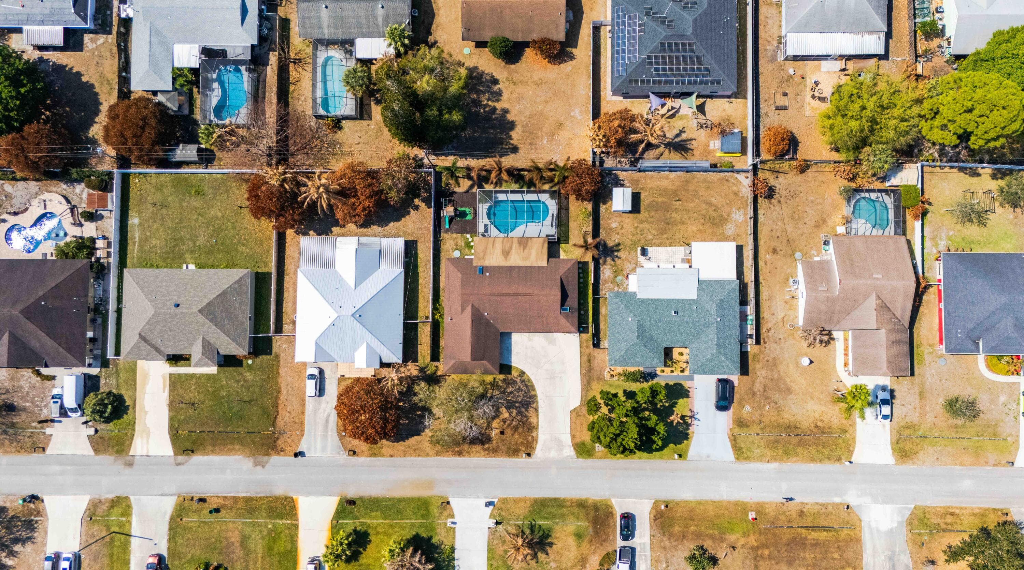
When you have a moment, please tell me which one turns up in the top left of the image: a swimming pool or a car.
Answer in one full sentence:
What appears in the top left of the image is a swimming pool.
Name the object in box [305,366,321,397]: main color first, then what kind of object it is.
white car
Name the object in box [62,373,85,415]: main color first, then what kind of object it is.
white vehicle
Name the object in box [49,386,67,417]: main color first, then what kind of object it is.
white car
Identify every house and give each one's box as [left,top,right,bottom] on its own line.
[607,242,741,376]
[0,259,97,369]
[443,237,578,375]
[295,236,406,369]
[795,235,916,377]
[111,0,262,92]
[780,0,888,60]
[937,252,1024,355]
[0,0,99,50]
[297,0,413,59]
[610,0,738,94]
[121,268,254,368]
[461,0,566,45]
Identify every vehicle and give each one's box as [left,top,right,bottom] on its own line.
[145,552,163,570]
[305,366,321,397]
[44,550,62,570]
[64,550,80,570]
[876,390,893,423]
[715,377,731,411]
[616,544,631,570]
[618,511,633,541]
[62,373,85,415]
[307,559,321,570]
[49,386,67,417]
